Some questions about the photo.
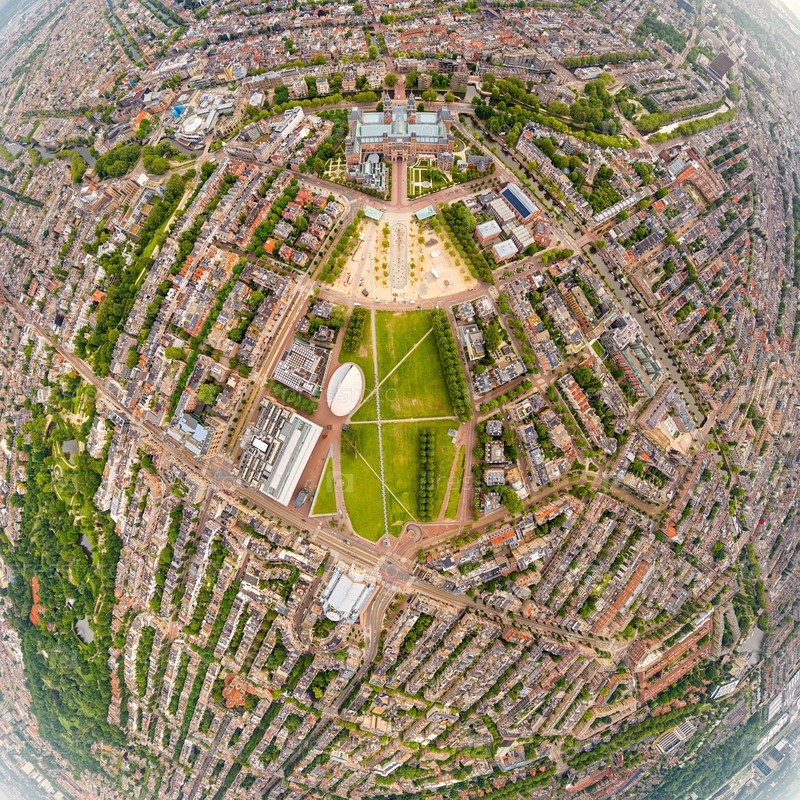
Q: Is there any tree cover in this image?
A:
Yes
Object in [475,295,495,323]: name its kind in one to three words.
house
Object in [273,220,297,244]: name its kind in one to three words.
house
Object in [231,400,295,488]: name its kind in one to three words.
building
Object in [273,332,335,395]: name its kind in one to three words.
building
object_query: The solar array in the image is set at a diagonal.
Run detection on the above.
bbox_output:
[502,188,533,220]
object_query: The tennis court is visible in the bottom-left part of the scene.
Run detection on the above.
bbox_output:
[28,574,44,627]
